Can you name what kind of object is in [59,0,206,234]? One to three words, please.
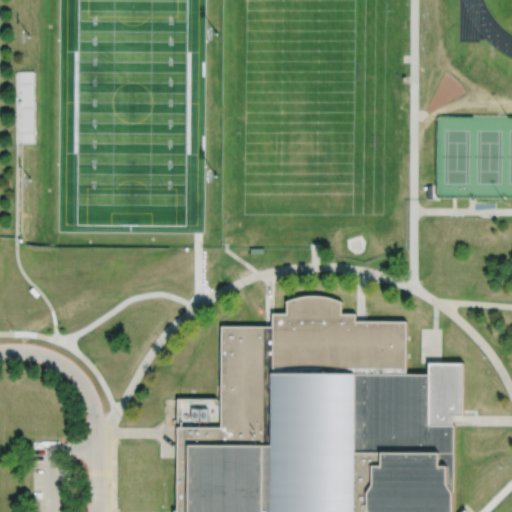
sports field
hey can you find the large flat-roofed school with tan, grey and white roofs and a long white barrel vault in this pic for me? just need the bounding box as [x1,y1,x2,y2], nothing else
[176,296,466,512]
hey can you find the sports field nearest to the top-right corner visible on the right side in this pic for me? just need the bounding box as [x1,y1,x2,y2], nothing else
[224,0,402,232]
